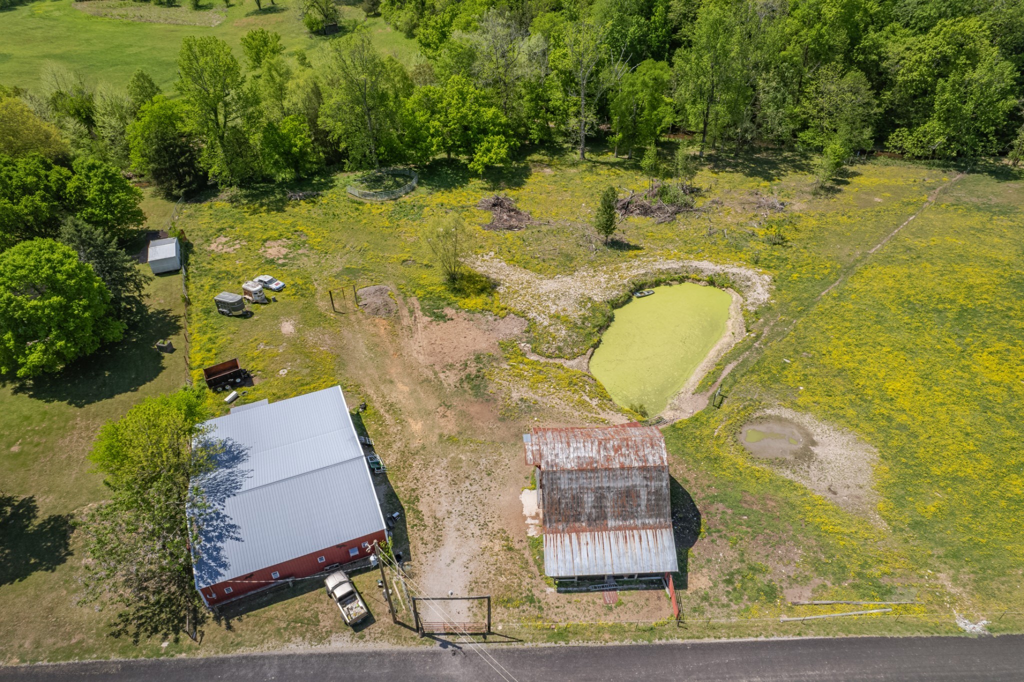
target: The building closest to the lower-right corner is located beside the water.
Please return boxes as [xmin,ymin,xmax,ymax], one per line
[522,421,678,590]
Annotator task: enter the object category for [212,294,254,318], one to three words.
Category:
trailer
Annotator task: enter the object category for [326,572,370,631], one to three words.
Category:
truck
